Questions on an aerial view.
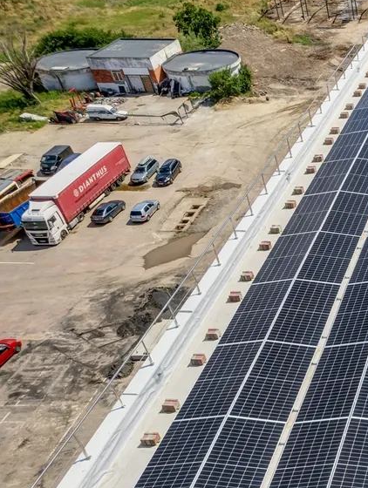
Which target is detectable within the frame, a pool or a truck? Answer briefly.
truck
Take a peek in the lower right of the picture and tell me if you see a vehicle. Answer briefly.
No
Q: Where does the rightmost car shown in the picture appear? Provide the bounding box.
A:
[152,156,185,183]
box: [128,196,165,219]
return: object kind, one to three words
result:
car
